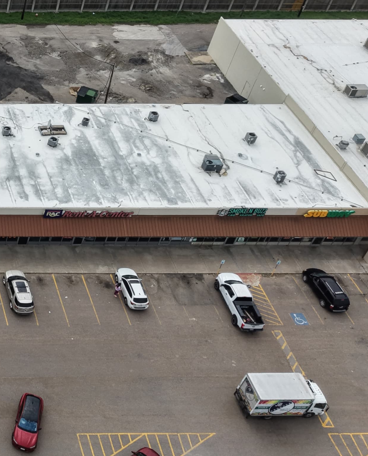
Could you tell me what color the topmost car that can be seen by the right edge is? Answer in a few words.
black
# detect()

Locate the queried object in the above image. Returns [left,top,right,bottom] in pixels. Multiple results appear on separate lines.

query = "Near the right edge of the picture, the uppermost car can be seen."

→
[299,271,354,316]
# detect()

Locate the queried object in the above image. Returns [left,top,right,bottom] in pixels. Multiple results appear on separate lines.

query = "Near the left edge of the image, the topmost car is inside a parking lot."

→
[3,272,38,317]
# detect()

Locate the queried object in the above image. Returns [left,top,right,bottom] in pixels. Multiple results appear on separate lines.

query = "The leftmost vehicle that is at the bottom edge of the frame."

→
[11,394,45,454]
